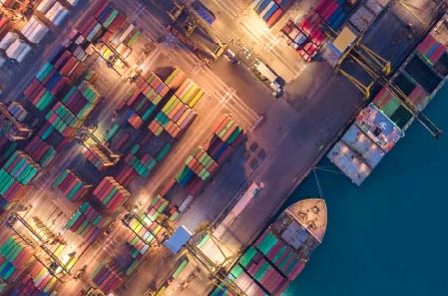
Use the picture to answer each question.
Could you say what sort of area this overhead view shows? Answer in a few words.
port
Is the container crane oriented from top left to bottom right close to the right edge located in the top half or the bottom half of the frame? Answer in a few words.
top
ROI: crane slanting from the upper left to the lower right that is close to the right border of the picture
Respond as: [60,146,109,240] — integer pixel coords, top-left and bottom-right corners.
[320,24,442,139]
